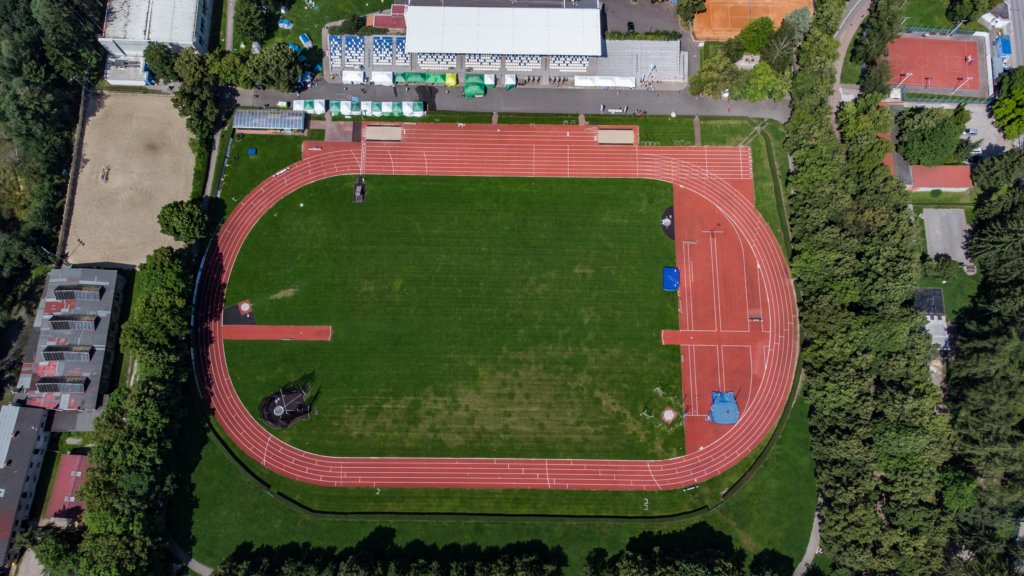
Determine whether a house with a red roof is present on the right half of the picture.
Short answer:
Yes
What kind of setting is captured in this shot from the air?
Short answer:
sports ground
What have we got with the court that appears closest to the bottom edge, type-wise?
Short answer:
basketball court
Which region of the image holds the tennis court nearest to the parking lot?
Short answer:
top right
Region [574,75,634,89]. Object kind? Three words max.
tent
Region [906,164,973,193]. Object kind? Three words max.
house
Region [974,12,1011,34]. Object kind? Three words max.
building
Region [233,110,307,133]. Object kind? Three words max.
shed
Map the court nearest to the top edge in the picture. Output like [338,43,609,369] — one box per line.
[693,0,808,42]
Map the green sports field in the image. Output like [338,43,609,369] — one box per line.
[223,173,687,460]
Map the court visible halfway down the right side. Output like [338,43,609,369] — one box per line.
[922,208,972,262]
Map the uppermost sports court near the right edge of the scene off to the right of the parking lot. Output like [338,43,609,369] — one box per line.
[883,31,985,98]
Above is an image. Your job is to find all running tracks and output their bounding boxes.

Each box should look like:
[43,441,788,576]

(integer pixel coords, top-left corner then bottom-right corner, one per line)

[194,123,799,491]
